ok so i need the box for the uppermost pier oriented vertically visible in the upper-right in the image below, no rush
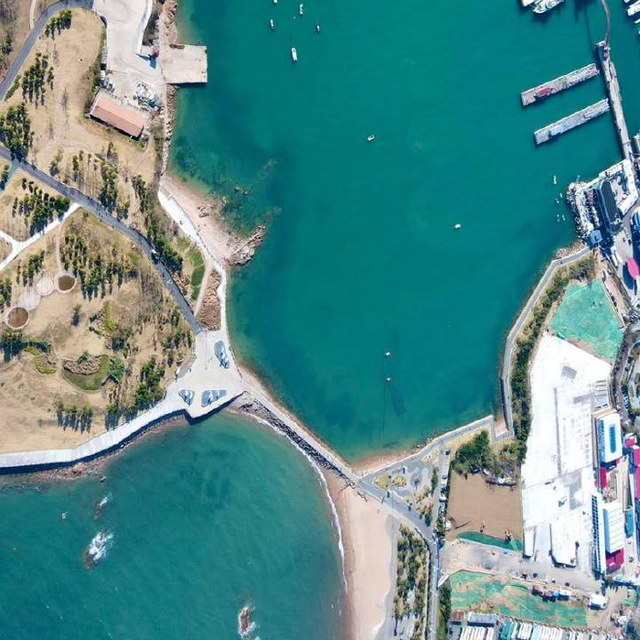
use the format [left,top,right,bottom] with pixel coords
[598,42,638,162]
